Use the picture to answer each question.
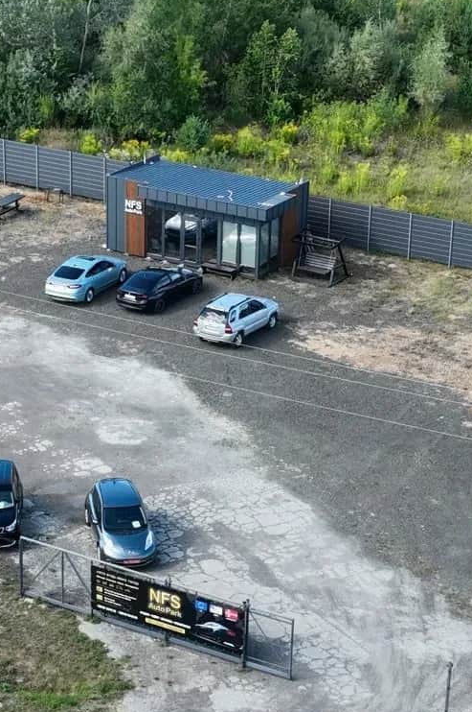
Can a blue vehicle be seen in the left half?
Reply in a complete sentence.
Yes, a blue vehicle shows up in the left half.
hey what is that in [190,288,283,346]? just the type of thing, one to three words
car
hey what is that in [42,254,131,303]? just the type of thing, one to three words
car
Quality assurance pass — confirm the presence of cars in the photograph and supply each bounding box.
[190,288,283,346]
[42,254,131,303]
[83,472,158,565]
[113,264,206,312]
[0,461,31,556]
